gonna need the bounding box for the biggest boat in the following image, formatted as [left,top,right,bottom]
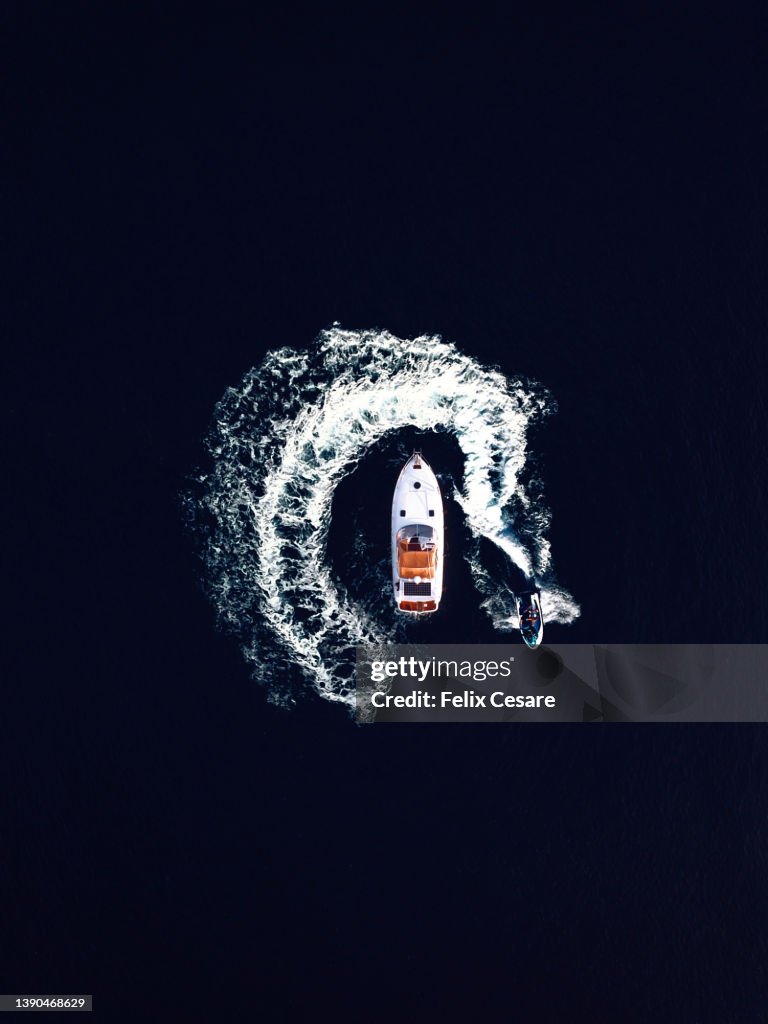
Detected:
[391,447,444,613]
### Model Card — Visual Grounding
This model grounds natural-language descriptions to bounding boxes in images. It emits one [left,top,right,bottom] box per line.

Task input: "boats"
[517,587,542,649]
[391,447,444,613]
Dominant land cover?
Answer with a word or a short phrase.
water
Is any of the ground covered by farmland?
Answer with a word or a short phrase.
No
